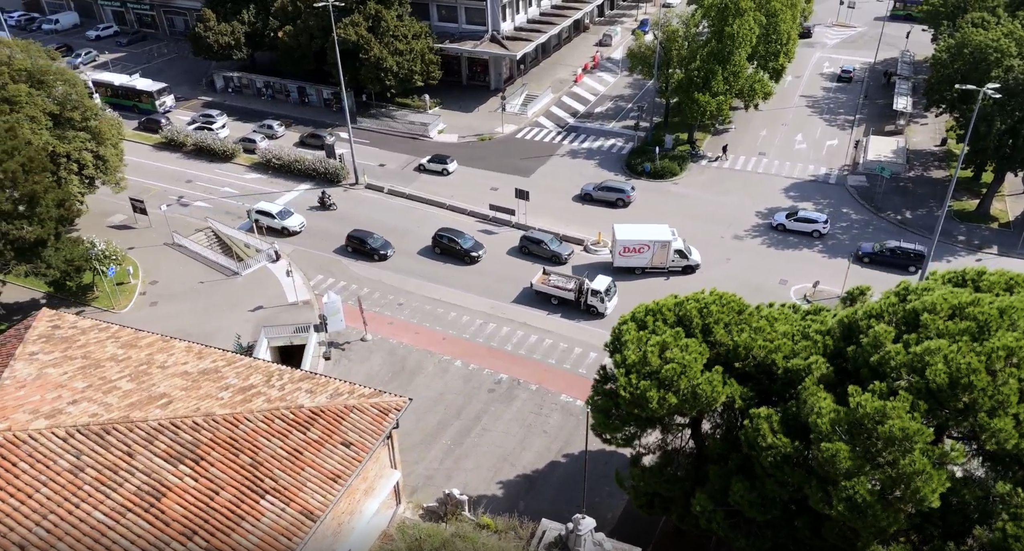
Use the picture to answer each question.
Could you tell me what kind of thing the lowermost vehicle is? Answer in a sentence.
Looking closely, the lowermost vehicle is a truck.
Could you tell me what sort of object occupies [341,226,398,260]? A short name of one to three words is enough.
car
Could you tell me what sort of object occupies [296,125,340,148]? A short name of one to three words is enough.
car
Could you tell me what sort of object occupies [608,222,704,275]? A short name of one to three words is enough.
truck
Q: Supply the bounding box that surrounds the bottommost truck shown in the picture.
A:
[526,262,620,317]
